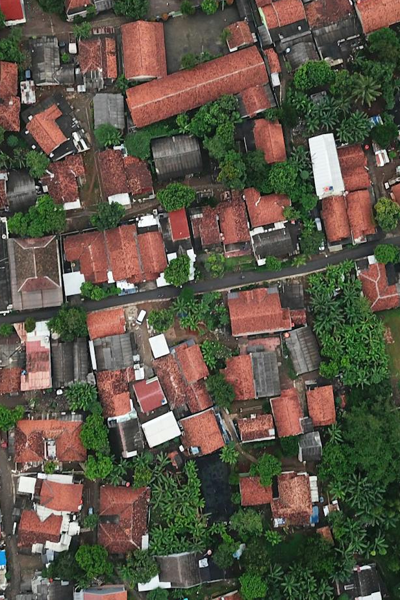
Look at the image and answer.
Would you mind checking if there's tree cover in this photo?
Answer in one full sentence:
Yes, there is tree cover in the image.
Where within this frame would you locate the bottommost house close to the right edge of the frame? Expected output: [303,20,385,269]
[355,566,382,597]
